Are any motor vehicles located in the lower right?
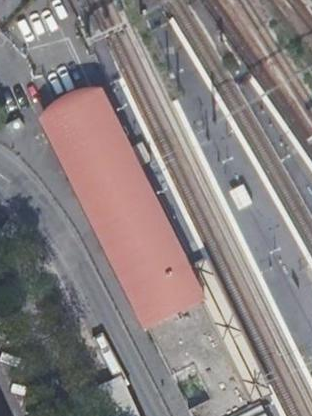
No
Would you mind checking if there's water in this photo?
No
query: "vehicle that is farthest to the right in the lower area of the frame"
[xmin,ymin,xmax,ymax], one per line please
[98,334,122,372]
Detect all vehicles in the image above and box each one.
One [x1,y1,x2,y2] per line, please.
[27,82,40,102]
[42,9,58,32]
[14,86,28,107]
[0,352,21,366]
[17,18,34,42]
[98,334,122,372]
[47,70,63,93]
[2,88,16,110]
[30,12,46,36]
[57,64,73,88]
[52,0,68,18]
